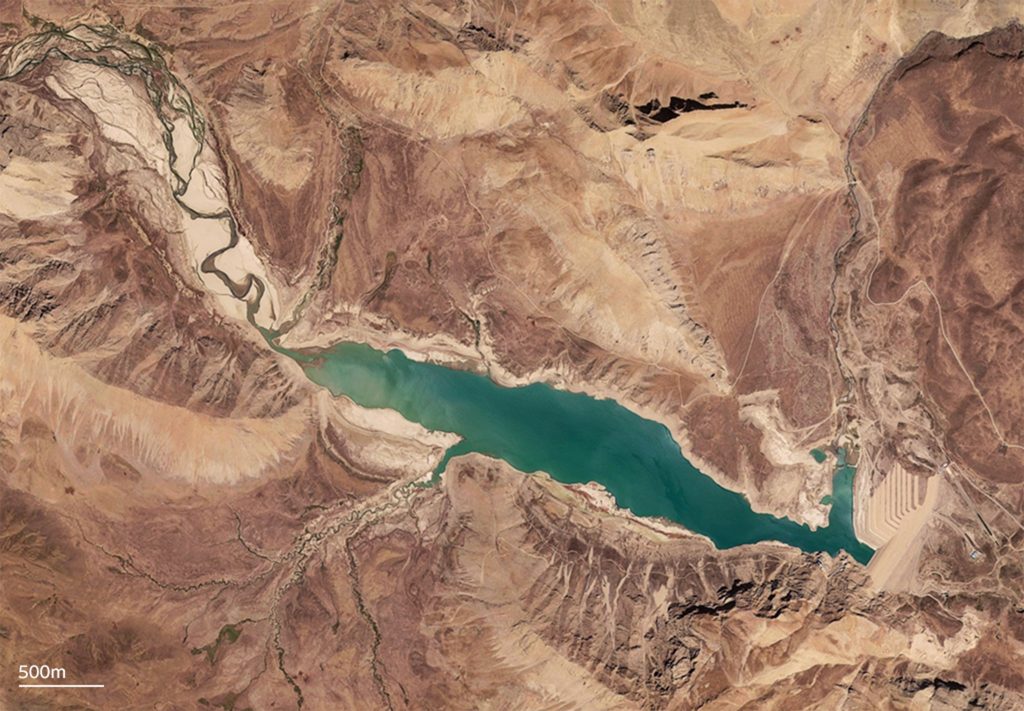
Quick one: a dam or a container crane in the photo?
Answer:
dam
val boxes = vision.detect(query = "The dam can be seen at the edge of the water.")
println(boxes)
[865,467,944,592]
